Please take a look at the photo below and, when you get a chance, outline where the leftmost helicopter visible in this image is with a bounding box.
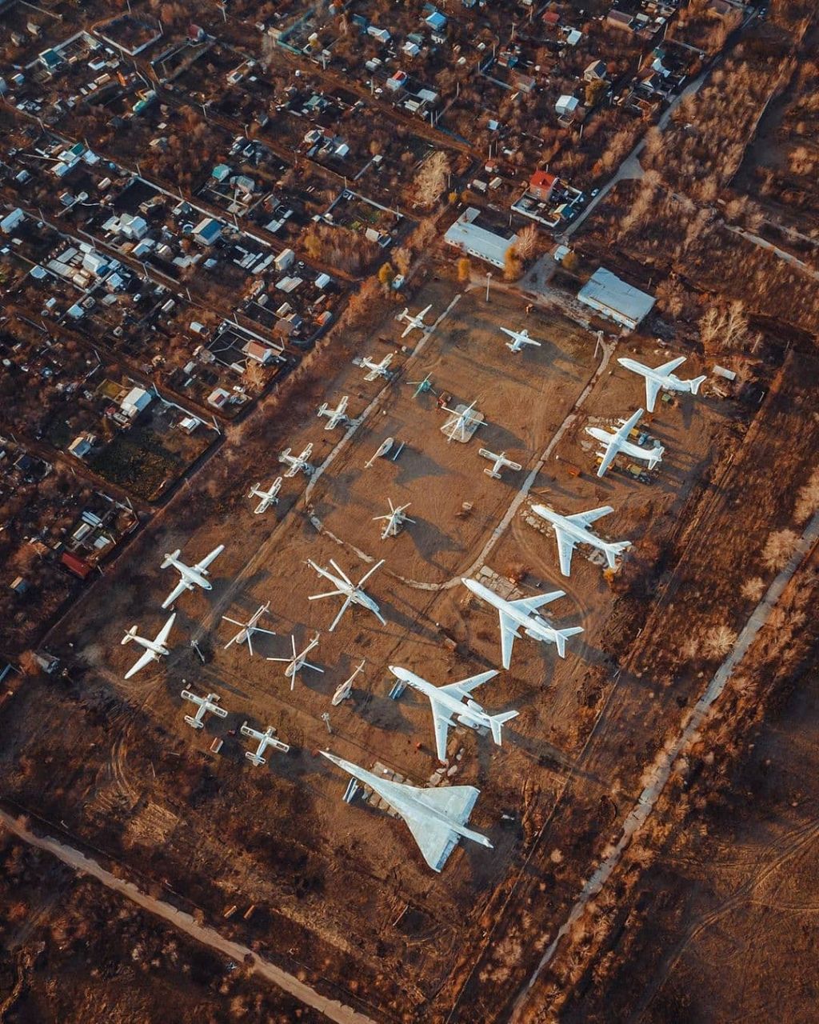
[223,602,275,654]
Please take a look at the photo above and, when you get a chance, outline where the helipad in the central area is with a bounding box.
[441,404,484,443]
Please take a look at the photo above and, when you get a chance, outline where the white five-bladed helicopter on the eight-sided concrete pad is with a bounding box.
[442,400,488,440]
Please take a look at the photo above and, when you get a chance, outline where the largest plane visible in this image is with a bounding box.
[318,749,494,871]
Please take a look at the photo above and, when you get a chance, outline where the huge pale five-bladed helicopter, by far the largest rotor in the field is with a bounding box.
[306,555,386,629]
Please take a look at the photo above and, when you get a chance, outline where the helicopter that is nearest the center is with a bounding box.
[373,497,415,538]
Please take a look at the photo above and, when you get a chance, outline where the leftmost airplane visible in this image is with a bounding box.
[120,609,170,673]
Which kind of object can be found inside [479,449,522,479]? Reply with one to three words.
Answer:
airplane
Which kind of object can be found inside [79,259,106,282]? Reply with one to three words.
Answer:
house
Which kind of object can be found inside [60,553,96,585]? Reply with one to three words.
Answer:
barn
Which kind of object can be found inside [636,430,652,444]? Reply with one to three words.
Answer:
vehicle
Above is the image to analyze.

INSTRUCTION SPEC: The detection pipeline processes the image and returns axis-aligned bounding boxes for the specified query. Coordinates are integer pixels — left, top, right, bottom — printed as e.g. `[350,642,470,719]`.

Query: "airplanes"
[532,506,632,575]
[358,352,391,380]
[181,694,230,730]
[388,666,516,761]
[276,442,309,476]
[461,578,580,667]
[241,726,290,765]
[120,609,170,673]
[497,330,543,352]
[618,359,704,411]
[247,478,282,513]
[586,408,669,477]
[396,305,425,337]
[318,749,494,871]
[479,449,522,479]
[277,444,310,478]
[158,543,219,604]
[317,395,348,428]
